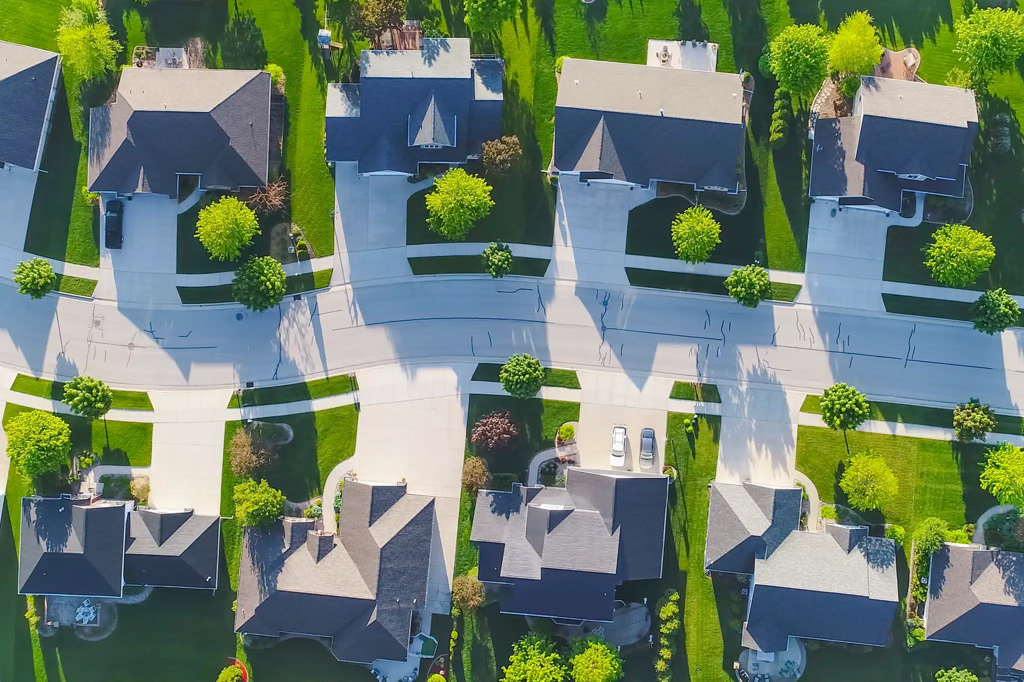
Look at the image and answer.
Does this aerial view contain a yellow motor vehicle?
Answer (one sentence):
No, I can't see a single yellow motor vehicle in this photo.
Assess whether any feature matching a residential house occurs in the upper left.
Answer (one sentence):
Yes, the scene does show a residential house in the upper left.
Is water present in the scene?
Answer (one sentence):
No, the picture contains no water.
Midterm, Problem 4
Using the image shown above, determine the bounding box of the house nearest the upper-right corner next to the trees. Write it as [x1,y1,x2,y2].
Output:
[805,75,979,214]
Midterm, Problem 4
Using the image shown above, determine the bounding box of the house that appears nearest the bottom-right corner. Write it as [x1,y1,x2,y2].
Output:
[918,541,1024,667]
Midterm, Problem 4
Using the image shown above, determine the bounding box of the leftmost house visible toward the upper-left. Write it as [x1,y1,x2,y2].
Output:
[0,40,63,171]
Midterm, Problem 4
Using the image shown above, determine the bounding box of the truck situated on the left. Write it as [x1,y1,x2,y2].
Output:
[101,199,123,249]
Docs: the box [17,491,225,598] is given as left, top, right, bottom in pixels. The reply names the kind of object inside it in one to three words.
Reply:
house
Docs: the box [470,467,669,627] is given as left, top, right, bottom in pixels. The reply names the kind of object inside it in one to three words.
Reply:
house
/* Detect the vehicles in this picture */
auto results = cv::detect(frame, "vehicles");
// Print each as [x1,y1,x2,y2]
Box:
[101,199,123,249]
[638,428,657,469]
[609,425,629,468]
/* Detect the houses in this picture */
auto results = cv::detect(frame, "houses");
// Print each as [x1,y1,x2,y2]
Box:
[918,541,1024,667]
[325,37,504,177]
[554,58,745,196]
[805,75,979,214]
[87,68,276,201]
[0,40,63,171]
[17,491,225,598]
[702,480,899,653]
[470,467,669,627]
[234,479,436,665]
